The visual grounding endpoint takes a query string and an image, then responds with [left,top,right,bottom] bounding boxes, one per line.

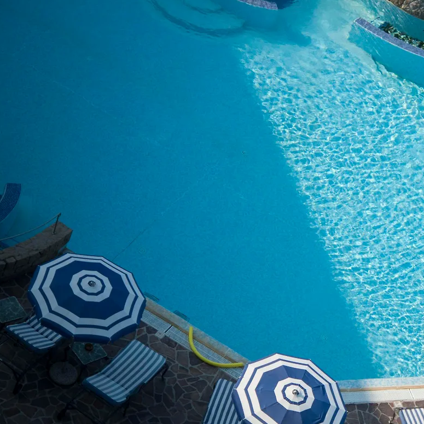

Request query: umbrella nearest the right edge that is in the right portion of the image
[231,353,348,424]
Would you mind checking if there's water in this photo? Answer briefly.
Yes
